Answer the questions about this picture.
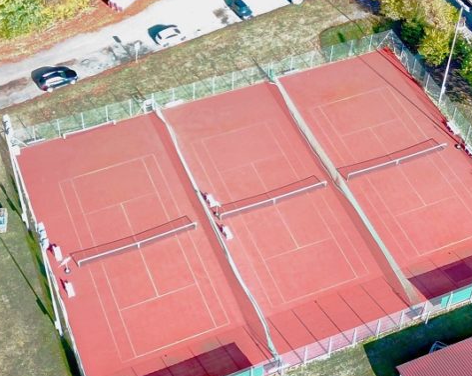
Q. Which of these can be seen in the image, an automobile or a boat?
automobile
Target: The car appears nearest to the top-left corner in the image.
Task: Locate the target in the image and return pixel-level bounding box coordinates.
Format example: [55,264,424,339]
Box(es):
[43,67,80,89]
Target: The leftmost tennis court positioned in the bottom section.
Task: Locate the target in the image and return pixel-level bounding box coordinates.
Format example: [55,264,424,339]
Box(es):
[18,111,280,376]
